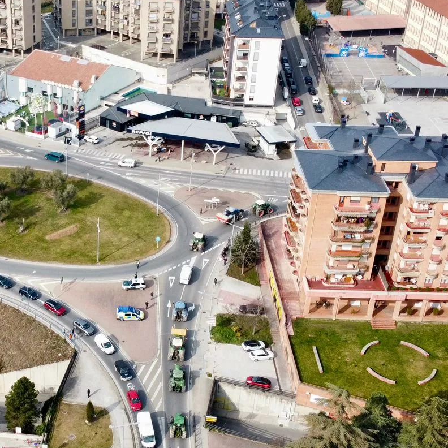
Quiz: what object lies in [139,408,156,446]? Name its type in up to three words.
vehicle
